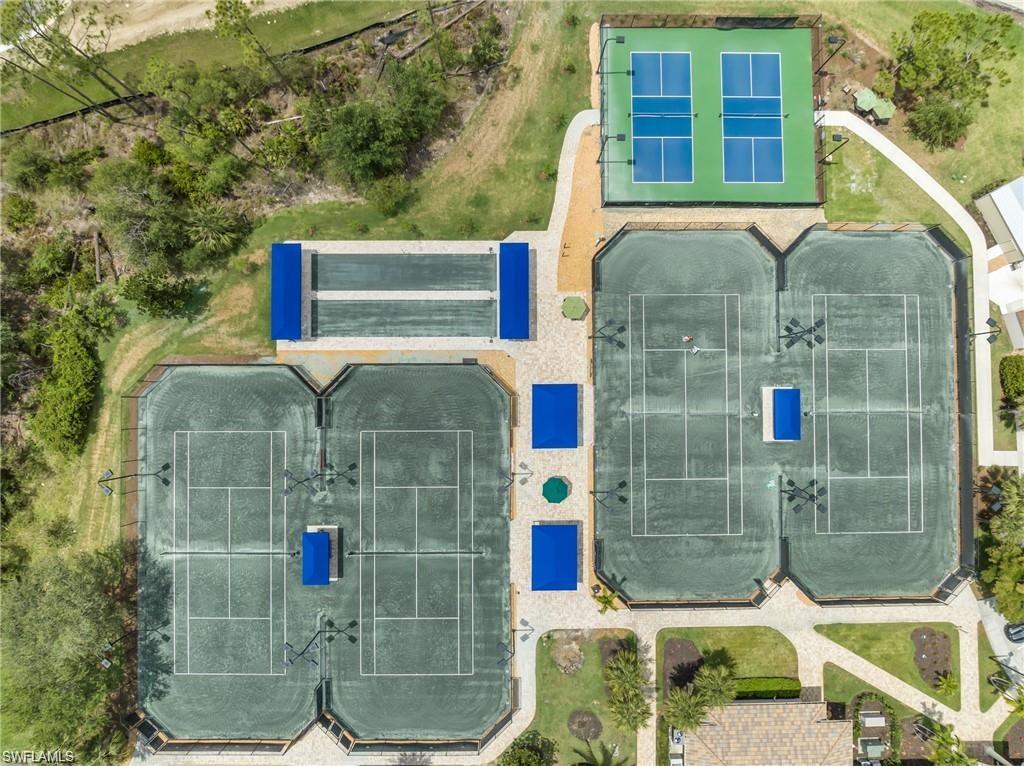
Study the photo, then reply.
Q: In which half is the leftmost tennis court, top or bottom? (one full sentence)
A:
The leftmost tennis court is in the bottom half of the image.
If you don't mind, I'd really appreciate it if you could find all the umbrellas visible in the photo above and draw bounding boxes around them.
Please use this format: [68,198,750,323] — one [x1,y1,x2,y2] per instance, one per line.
[561,295,587,320]
[870,97,896,121]
[850,87,877,112]
[543,476,568,502]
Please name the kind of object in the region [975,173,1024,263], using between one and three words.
building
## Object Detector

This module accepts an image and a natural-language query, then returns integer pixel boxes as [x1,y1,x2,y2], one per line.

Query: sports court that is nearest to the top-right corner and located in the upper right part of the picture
[707,27,818,201]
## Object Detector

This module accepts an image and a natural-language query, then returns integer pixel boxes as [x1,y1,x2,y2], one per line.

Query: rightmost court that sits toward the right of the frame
[777,231,959,599]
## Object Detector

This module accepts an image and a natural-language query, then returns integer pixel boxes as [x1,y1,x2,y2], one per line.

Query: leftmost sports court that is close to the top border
[600,27,709,205]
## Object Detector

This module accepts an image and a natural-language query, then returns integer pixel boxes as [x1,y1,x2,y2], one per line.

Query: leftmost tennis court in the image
[138,366,322,739]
